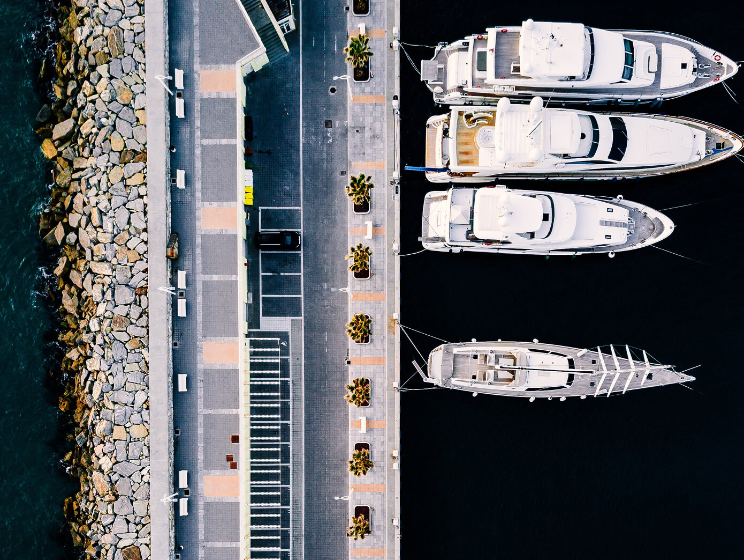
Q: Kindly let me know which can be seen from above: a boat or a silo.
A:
boat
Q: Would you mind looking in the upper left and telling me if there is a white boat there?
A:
No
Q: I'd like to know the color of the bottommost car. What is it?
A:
black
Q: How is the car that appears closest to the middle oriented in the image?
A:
from left to right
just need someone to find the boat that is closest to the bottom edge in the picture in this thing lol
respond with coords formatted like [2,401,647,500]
[427,342,696,397]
